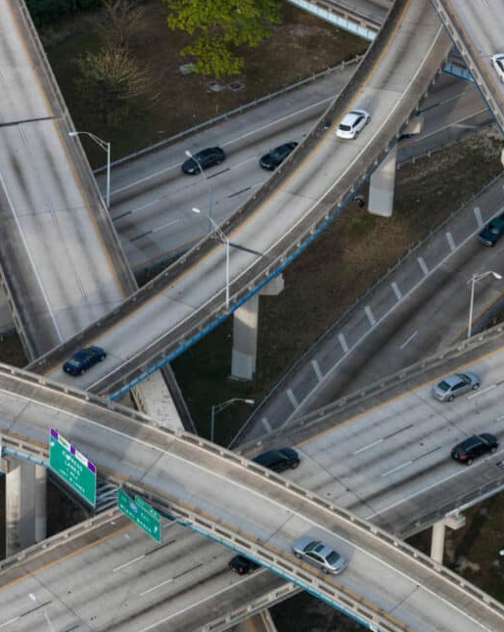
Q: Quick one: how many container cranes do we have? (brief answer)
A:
0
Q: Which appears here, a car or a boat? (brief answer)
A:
car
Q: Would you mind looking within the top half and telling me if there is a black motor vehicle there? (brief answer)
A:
Yes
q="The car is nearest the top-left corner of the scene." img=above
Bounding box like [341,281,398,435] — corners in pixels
[183,145,225,172]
